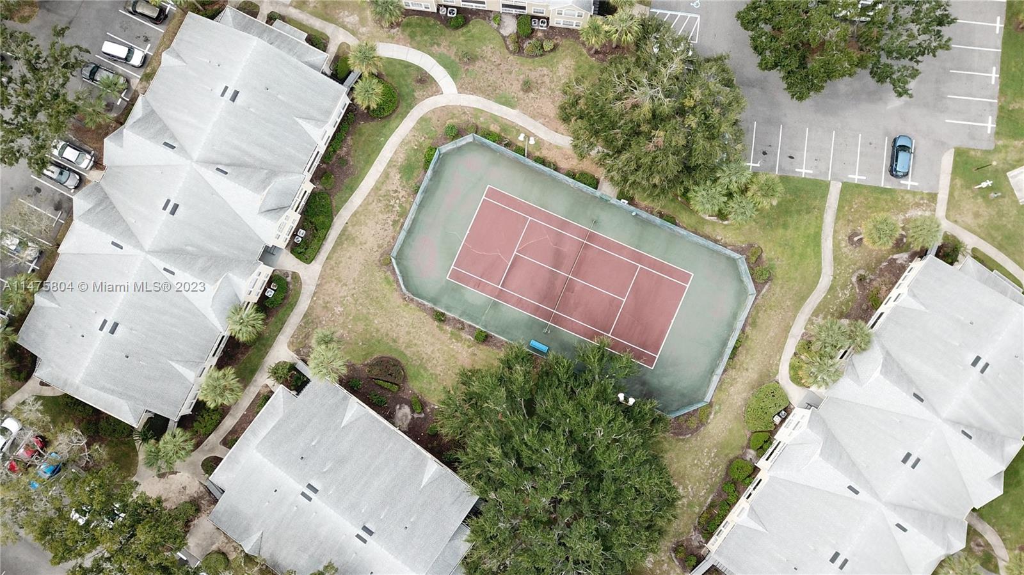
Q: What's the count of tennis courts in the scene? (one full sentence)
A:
The photo contains exactly 1 tennis court.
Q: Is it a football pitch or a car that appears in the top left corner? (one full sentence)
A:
Looking in the top left corner, you will find a car.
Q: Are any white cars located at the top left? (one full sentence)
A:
Yes, looking at the top left, one can make out a white car.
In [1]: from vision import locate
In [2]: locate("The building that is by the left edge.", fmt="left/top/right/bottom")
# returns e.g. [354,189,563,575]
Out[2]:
[17,3,361,439]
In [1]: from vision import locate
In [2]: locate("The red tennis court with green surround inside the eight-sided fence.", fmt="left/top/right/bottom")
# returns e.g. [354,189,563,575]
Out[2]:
[397,144,744,411]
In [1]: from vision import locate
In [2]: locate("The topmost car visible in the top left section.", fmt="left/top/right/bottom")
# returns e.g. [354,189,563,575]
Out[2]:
[123,0,172,27]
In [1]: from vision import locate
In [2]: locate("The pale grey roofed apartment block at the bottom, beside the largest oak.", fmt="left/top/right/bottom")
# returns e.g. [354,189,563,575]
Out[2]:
[205,357,479,575]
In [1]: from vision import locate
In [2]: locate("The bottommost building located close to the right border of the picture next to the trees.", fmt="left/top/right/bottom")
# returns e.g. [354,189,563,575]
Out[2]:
[684,238,1024,575]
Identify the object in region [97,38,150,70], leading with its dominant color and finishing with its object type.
white vehicle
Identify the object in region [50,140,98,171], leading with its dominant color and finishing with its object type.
white car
